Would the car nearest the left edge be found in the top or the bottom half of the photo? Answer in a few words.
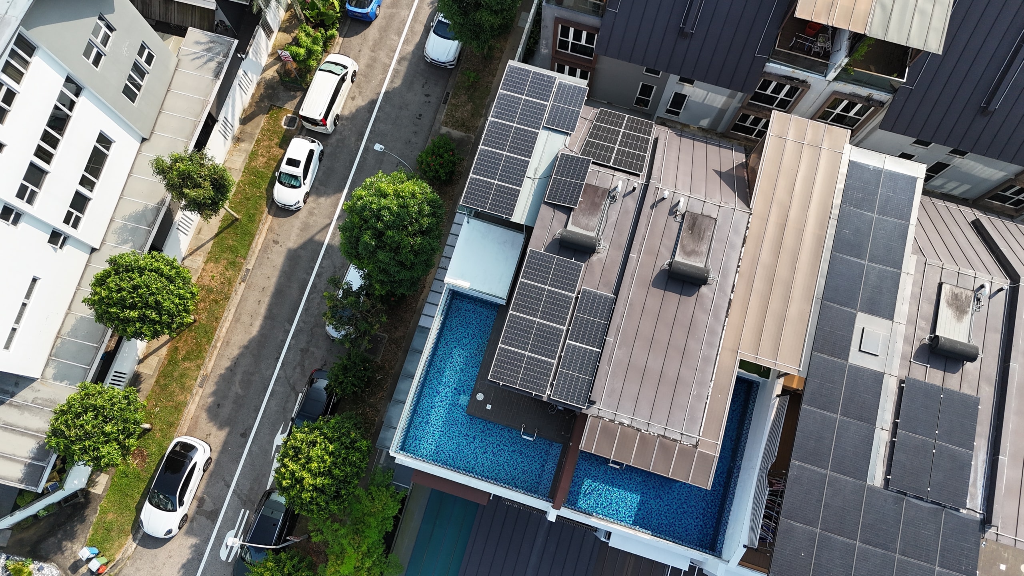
bottom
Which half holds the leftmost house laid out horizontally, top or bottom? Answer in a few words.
top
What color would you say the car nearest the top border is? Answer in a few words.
blue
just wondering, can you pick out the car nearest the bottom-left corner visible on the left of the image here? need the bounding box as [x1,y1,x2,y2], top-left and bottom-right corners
[143,436,211,539]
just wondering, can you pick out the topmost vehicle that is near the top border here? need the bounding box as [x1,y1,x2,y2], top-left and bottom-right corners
[345,0,384,28]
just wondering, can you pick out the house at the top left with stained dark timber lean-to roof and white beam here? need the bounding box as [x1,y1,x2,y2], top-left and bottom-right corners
[130,0,243,59]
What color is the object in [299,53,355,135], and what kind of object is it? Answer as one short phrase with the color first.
white car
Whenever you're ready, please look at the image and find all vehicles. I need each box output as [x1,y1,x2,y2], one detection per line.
[294,369,344,423]
[425,28,463,72]
[237,483,296,576]
[272,132,325,211]
[345,0,384,28]
[299,53,355,135]
[143,436,211,539]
